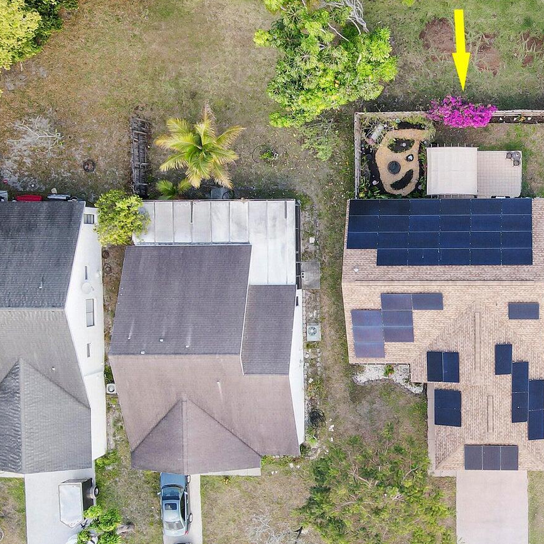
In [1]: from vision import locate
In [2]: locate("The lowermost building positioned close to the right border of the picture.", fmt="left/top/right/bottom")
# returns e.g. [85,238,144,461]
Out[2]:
[342,197,544,472]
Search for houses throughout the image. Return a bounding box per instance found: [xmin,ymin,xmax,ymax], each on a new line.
[0,201,104,475]
[342,197,544,472]
[109,198,309,475]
